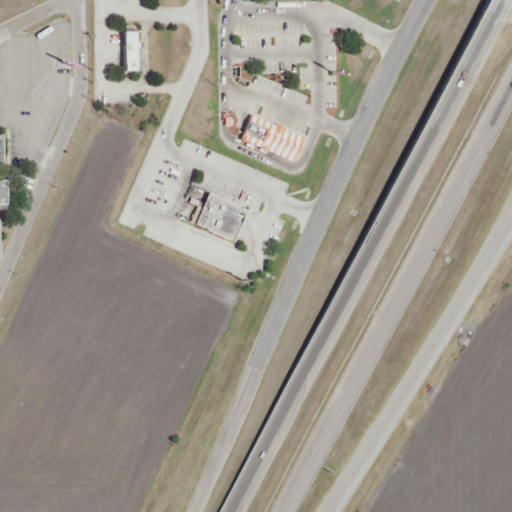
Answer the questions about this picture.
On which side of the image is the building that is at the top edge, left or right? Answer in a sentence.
The building that is at the top edge appears in the left half of the scene.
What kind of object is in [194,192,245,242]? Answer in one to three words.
building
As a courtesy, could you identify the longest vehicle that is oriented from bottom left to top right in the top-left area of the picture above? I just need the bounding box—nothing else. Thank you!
[36,24,56,38]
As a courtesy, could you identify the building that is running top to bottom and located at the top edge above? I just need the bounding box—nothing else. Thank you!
[123,25,142,71]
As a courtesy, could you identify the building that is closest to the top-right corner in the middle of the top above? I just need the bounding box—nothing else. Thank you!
[240,114,304,161]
